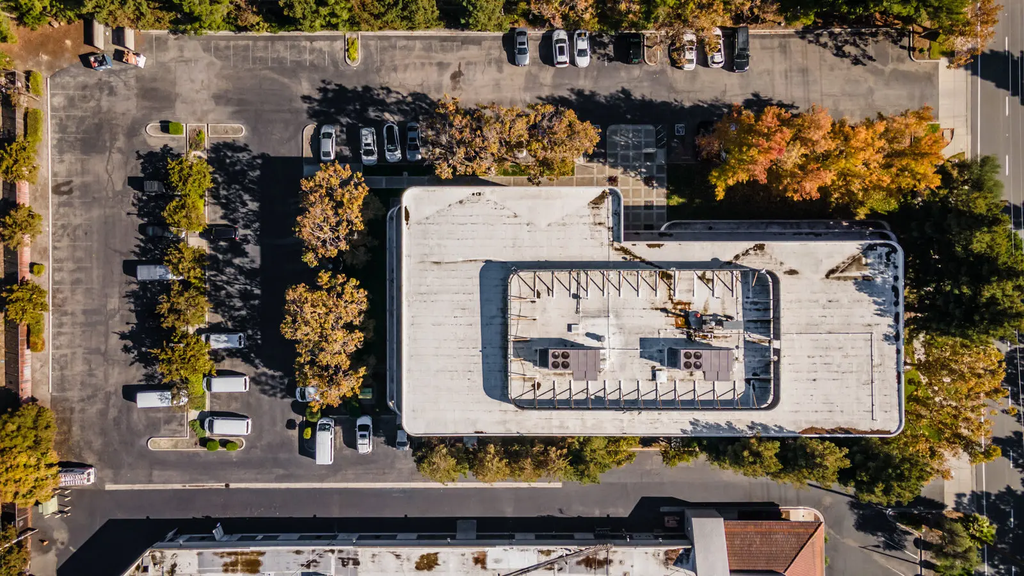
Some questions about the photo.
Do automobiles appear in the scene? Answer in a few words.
Yes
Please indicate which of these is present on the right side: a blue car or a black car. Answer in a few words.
black car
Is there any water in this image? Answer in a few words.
No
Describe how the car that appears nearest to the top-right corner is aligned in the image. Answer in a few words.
up and down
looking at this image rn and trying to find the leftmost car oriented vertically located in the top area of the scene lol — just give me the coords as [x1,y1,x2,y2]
[318,125,336,162]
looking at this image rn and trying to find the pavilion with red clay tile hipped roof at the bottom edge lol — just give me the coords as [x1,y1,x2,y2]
[724,519,827,576]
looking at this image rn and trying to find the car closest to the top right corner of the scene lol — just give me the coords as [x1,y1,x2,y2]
[731,28,751,73]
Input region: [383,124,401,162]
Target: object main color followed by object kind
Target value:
black car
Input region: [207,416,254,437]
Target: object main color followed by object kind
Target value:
white vehicle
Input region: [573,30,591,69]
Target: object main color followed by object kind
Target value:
white car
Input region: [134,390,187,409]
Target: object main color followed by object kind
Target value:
white vehicle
